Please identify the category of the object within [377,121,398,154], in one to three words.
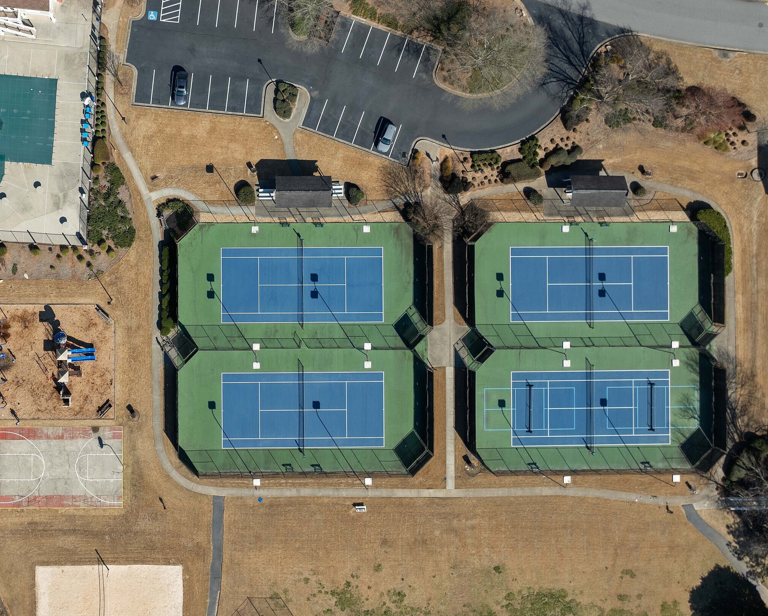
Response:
car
